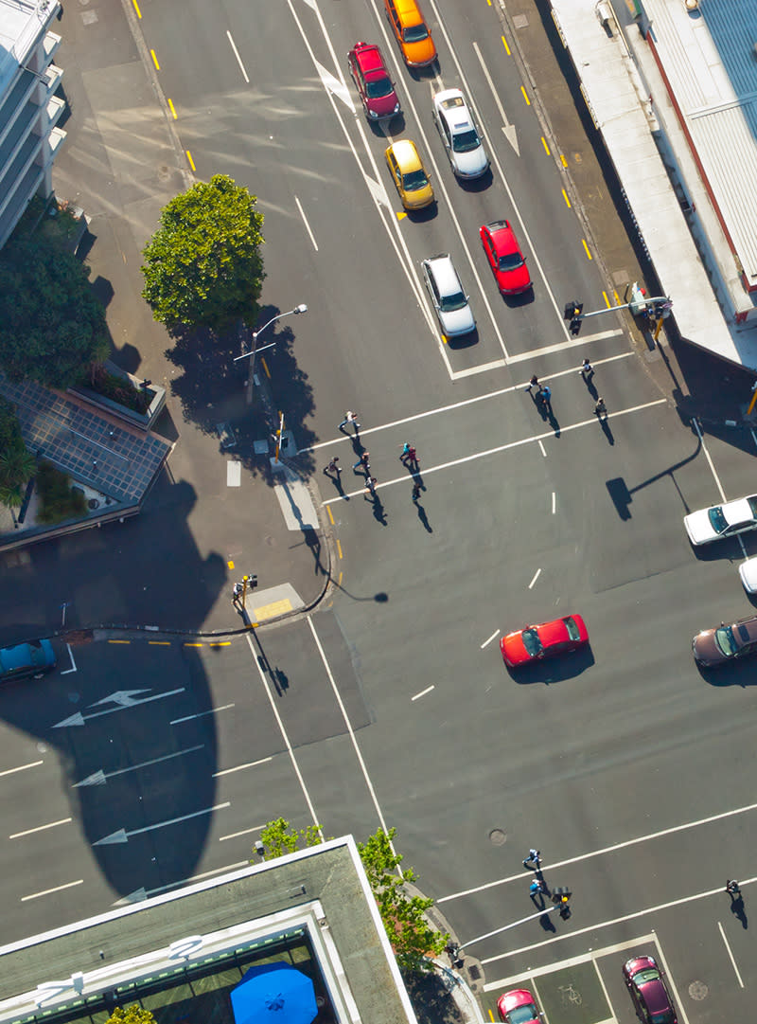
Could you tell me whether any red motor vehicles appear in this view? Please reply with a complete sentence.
Yes, there is a red motor vehicle in the image.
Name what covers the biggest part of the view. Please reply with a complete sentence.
The scene is dominated by paved ground.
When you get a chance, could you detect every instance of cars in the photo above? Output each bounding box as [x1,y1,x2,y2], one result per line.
[688,608,757,663]
[423,257,474,339]
[682,490,757,545]
[625,953,683,1024]
[434,96,488,181]
[482,220,531,297]
[498,613,588,665]
[382,0,436,66]
[388,142,434,211]
[735,549,757,592]
[351,43,399,123]
[0,642,57,687]
[504,987,551,1024]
